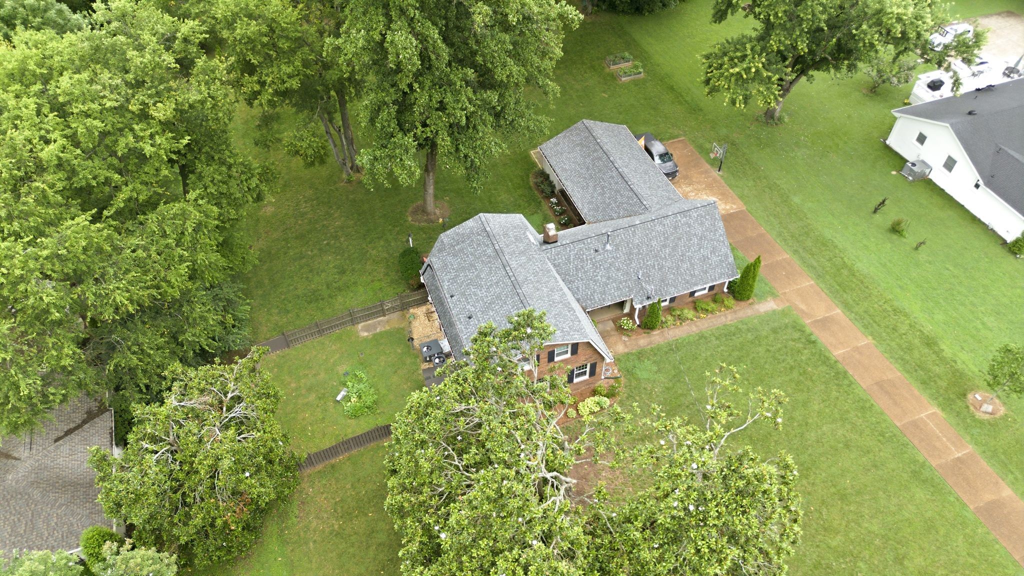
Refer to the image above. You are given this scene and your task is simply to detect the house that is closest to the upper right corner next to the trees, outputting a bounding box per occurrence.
[887,78,1024,242]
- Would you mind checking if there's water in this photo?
No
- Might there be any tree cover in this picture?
Yes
